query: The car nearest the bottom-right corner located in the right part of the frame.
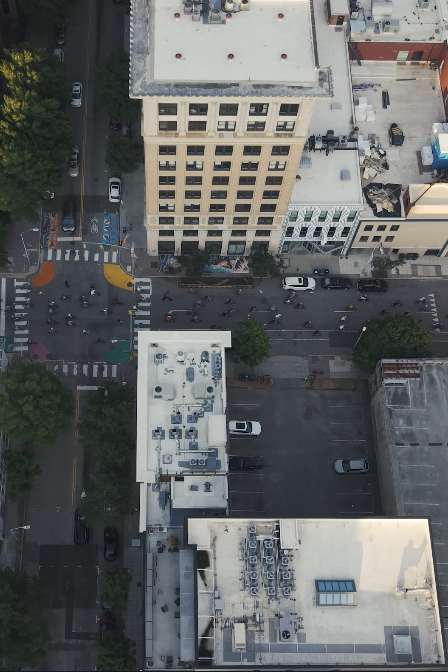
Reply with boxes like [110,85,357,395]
[331,457,370,476]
